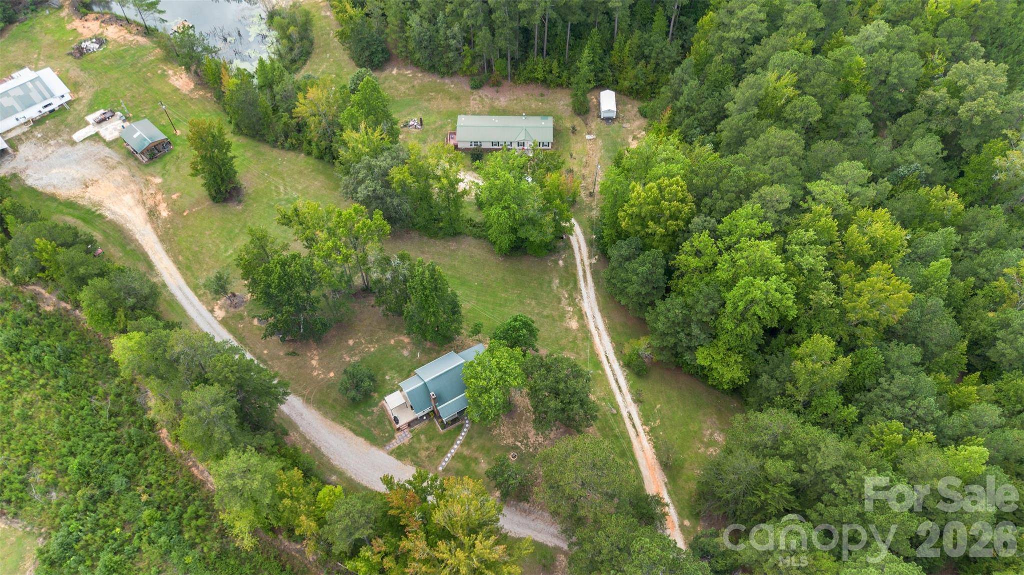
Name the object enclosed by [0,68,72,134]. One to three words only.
building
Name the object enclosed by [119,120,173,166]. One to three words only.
building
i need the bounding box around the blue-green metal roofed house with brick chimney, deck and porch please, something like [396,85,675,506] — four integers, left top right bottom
[381,344,489,432]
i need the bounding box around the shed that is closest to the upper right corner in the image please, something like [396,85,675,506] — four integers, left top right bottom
[597,86,618,119]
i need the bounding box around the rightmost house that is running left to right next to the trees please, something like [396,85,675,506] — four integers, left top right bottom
[444,113,552,160]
